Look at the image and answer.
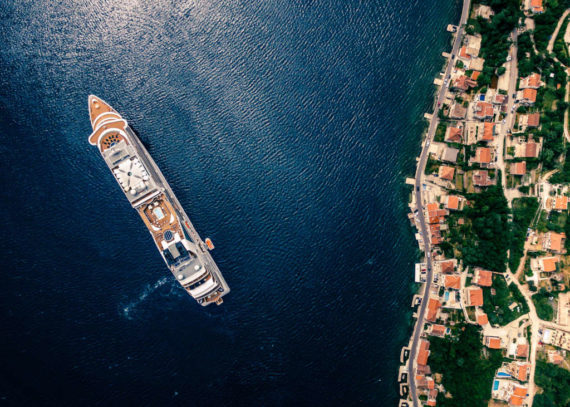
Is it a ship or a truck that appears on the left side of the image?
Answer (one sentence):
You can see a ship on the left side of the image.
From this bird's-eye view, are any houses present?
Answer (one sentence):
Yes, there is a house in the image.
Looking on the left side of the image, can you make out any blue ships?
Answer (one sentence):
No, I see no blue ship on the left side of the image.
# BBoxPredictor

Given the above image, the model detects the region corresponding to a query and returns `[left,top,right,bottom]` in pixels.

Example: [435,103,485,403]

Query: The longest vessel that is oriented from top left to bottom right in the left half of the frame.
[87,94,229,308]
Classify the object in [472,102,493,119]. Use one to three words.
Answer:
house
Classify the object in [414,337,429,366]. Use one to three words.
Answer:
house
